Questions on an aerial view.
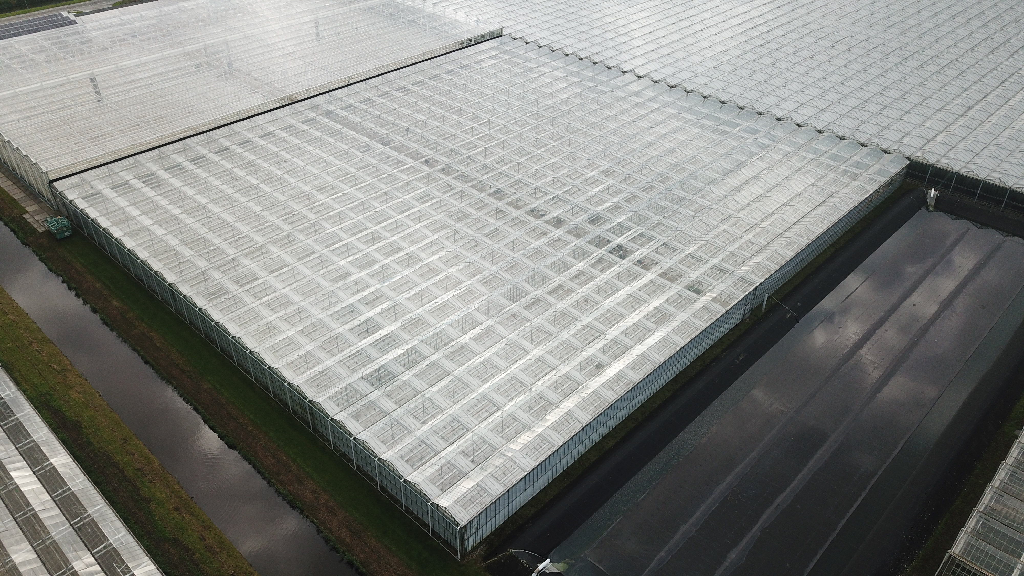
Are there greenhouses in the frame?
Yes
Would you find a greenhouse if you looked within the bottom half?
Yes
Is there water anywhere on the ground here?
Yes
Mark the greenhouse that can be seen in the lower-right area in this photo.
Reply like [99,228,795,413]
[937,419,1024,576]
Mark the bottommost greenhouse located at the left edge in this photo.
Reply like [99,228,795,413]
[0,365,165,576]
